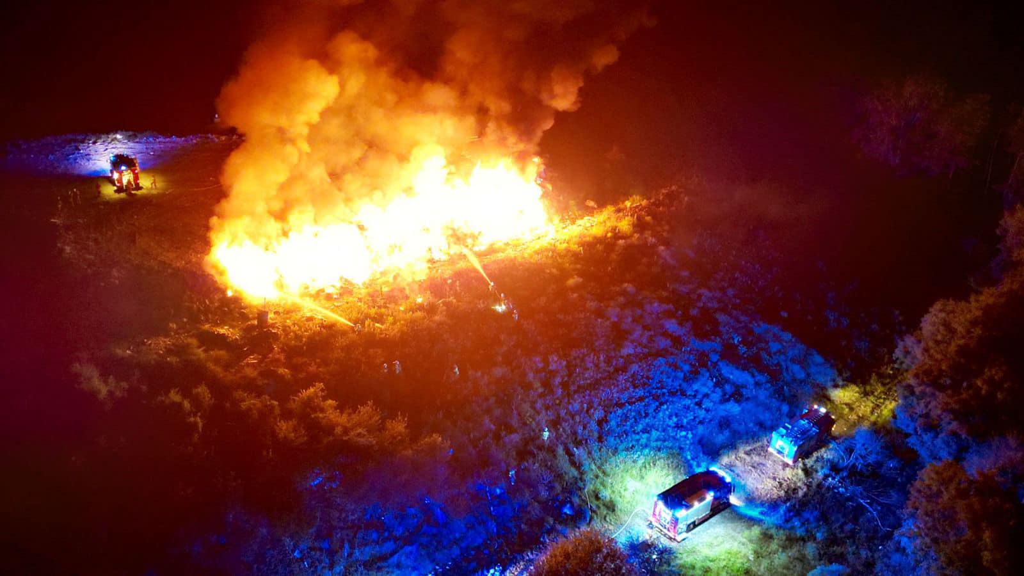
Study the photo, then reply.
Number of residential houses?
0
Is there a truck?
Yes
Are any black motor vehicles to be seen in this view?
No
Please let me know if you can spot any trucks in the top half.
Yes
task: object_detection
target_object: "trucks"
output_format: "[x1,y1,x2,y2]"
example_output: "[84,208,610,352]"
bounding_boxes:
[104,152,139,190]
[647,462,740,543]
[767,397,841,463]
